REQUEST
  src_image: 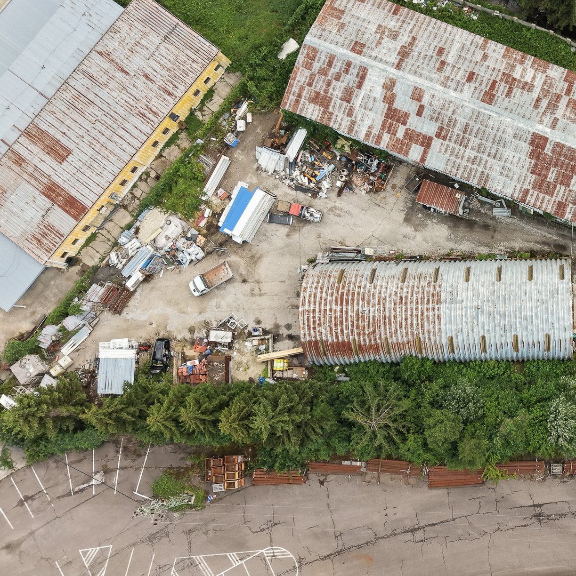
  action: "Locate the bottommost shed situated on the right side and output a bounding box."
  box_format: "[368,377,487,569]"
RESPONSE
[300,259,573,362]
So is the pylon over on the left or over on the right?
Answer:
left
